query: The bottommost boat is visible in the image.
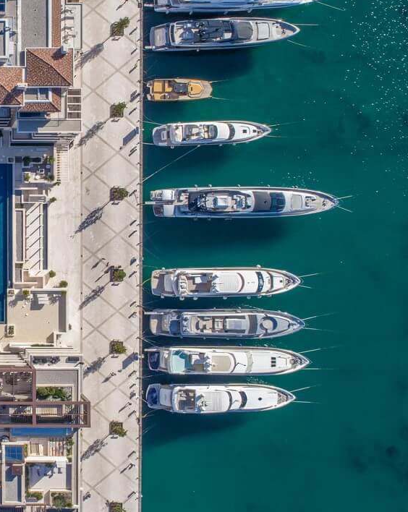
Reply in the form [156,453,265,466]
[138,383,313,419]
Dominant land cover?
water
